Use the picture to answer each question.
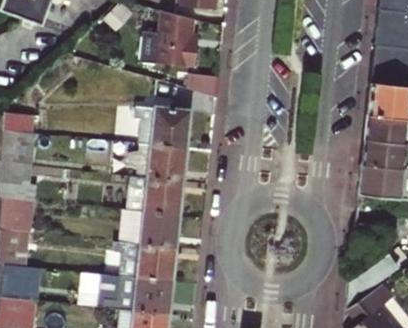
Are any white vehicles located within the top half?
Yes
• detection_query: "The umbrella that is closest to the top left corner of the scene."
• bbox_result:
[112,142,126,156]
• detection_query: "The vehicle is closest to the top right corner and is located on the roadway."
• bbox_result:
[342,30,363,48]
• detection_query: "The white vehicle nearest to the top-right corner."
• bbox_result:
[340,50,363,68]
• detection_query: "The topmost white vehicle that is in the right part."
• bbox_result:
[302,18,321,39]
